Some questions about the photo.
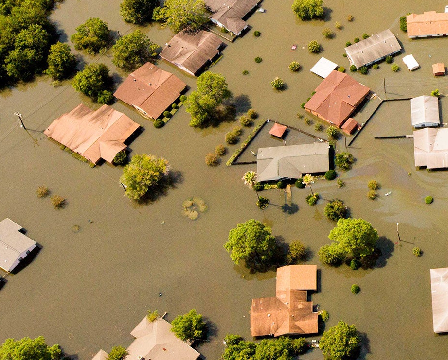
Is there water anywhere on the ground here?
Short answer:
Yes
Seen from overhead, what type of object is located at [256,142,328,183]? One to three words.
house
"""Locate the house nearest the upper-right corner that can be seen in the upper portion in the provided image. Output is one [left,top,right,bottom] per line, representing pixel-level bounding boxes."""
[407,11,448,39]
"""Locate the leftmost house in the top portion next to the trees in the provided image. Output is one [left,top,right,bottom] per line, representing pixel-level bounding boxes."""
[44,93,140,169]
